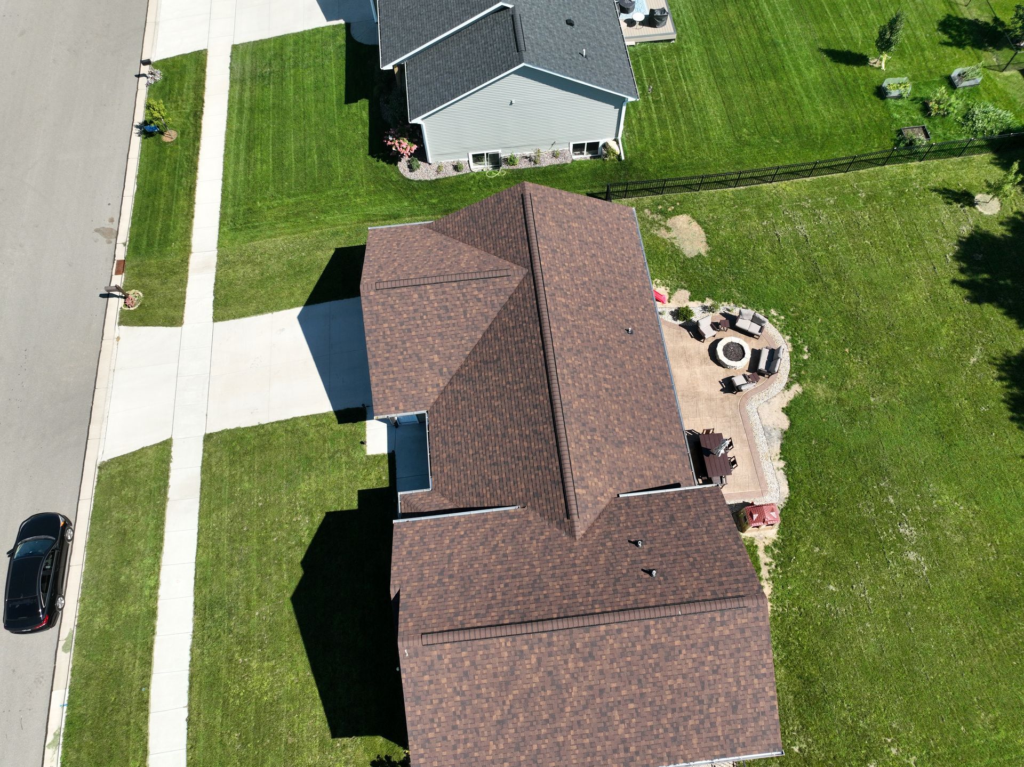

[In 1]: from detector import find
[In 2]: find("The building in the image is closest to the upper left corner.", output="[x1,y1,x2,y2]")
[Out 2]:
[365,0,642,171]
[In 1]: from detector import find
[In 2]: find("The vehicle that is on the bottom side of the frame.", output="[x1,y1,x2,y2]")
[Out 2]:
[3,512,76,632]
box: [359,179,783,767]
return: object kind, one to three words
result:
house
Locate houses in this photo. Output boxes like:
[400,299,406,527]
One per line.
[365,0,642,171]
[359,179,783,767]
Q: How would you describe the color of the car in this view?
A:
black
